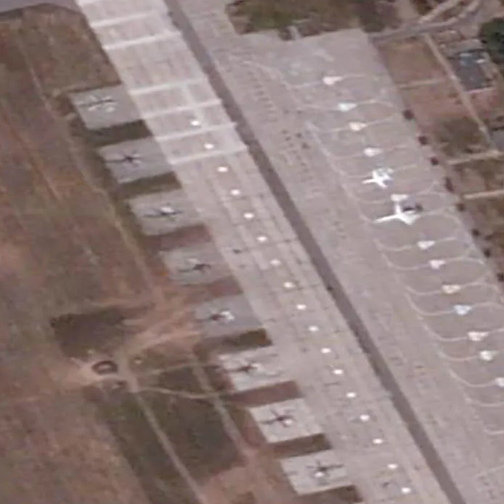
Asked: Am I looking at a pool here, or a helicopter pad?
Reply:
helicopter pad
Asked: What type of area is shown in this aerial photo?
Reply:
airport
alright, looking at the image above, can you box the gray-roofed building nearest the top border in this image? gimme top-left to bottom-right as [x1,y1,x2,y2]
[450,49,492,94]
